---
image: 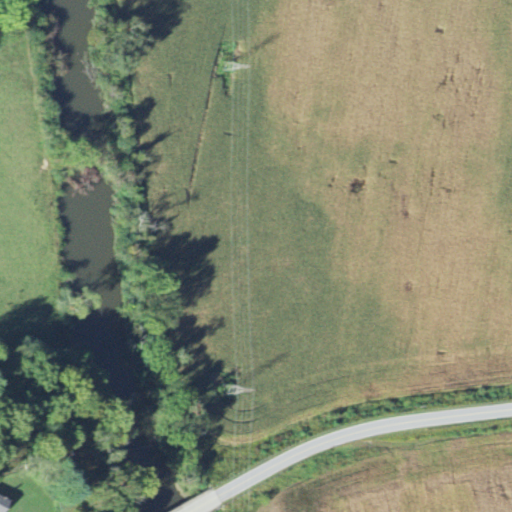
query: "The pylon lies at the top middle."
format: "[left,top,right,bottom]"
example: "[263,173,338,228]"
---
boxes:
[224,60,248,72]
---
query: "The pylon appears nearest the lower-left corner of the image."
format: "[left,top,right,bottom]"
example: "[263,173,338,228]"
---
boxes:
[226,384,250,398]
